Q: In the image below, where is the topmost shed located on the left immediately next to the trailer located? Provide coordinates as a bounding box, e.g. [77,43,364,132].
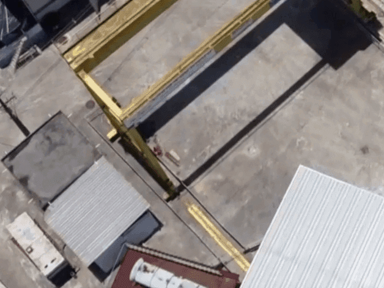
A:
[0,109,108,211]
